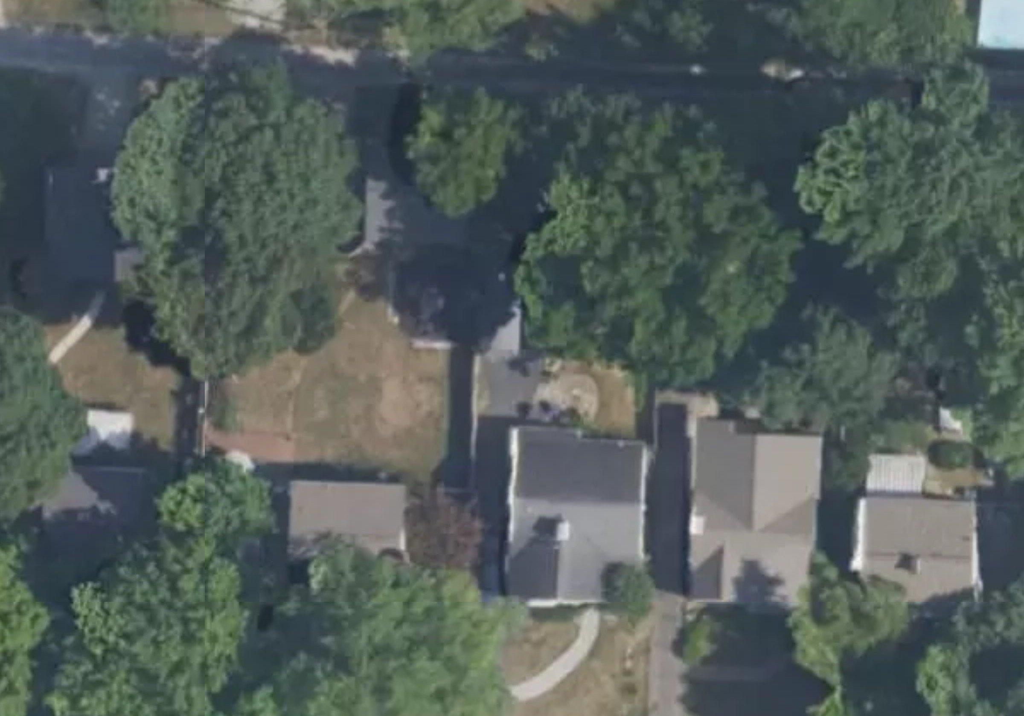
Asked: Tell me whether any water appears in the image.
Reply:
No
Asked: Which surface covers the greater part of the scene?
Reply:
trees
